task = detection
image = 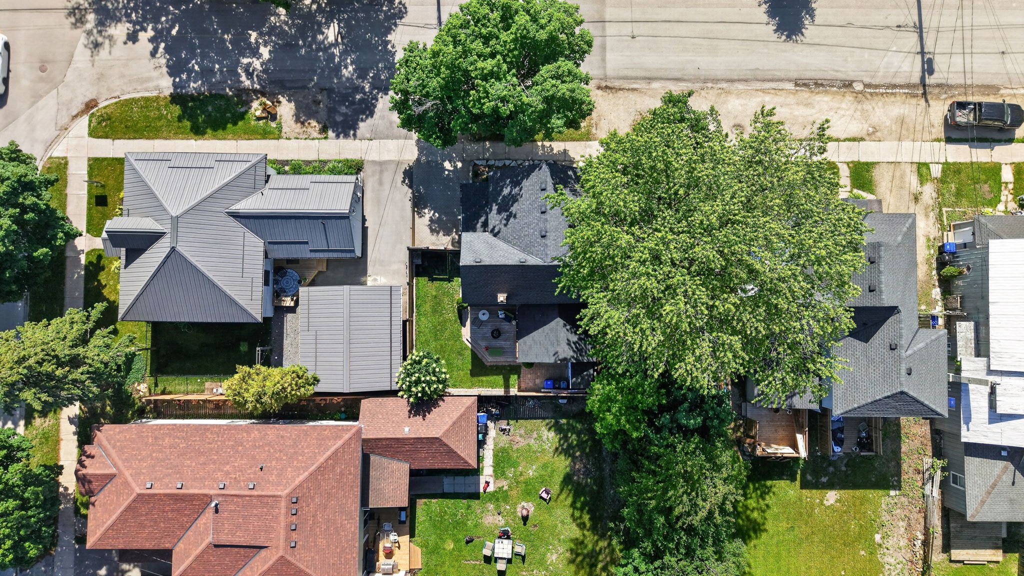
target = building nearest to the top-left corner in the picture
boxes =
[99,151,364,325]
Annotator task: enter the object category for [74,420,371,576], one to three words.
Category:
house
